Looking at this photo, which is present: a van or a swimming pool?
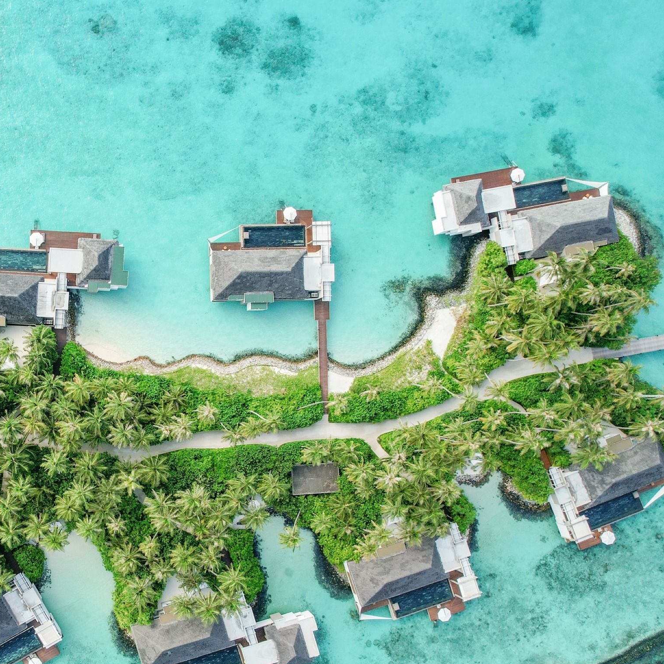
swimming pool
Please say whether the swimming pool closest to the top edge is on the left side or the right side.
right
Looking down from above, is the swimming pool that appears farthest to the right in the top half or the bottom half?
bottom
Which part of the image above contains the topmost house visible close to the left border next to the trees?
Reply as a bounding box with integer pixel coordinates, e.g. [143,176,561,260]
[0,227,129,334]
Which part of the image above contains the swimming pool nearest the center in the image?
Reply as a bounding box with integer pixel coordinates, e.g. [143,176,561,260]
[239,225,307,249]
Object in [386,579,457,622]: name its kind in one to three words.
swimming pool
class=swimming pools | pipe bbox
[585,482,658,526]
[0,248,49,273]
[175,645,243,664]
[0,625,46,664]
[386,579,457,622]
[508,175,574,209]
[239,225,307,249]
